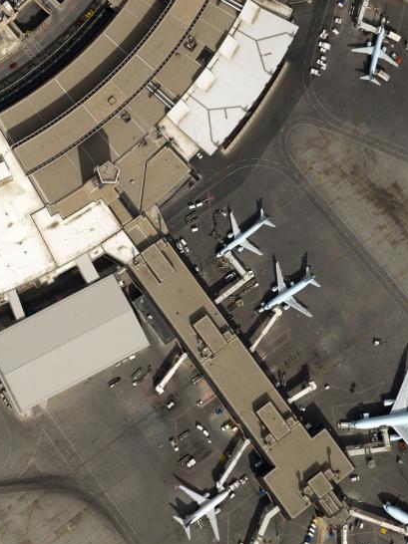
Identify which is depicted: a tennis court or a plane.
plane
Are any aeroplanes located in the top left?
No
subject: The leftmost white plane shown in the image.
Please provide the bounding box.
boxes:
[176,486,232,541]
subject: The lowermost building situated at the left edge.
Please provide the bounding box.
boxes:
[0,269,149,413]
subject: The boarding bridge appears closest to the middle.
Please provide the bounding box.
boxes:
[215,246,251,304]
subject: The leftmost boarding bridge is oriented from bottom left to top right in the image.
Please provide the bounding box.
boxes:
[151,353,187,395]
